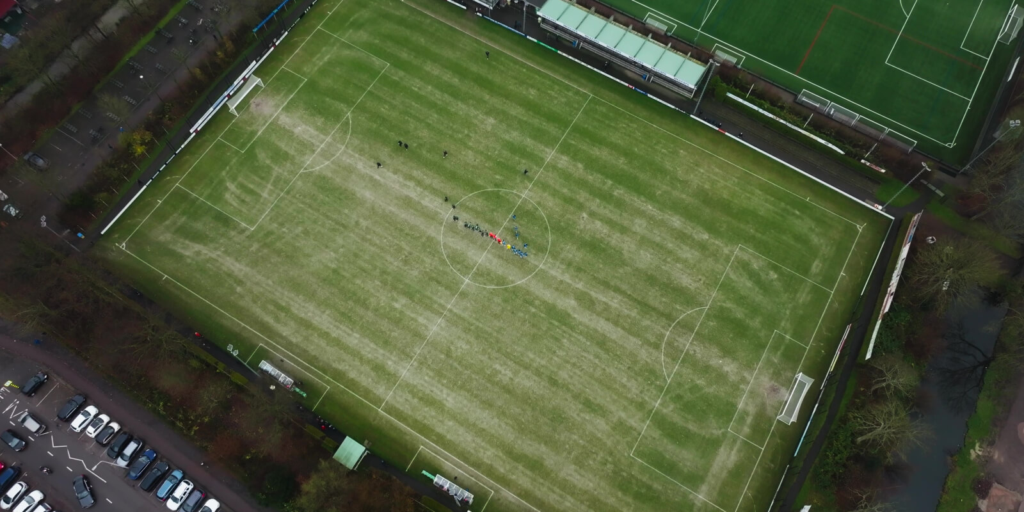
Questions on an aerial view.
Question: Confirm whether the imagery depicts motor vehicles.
Yes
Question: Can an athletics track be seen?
No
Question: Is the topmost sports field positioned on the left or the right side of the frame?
right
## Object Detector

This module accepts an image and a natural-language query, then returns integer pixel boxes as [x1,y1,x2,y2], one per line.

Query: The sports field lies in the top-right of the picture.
[593,0,1024,173]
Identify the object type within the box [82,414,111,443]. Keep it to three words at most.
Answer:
car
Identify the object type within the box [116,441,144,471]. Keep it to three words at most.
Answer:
car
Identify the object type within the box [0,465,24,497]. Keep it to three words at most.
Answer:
vehicle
